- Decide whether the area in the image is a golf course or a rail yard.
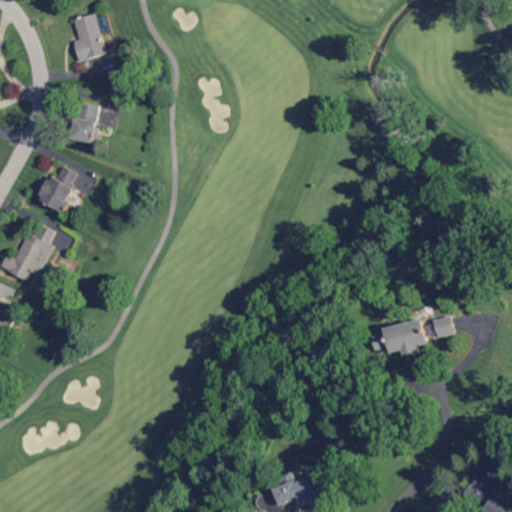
golf course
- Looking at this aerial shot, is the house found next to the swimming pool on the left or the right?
left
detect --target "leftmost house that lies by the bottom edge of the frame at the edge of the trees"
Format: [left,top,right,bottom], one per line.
[268,474,308,508]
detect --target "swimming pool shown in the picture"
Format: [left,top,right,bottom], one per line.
[97,14,114,39]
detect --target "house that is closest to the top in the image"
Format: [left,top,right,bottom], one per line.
[72,14,104,60]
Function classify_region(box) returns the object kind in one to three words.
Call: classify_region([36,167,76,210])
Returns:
house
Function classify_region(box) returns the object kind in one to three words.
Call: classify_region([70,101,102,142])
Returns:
house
